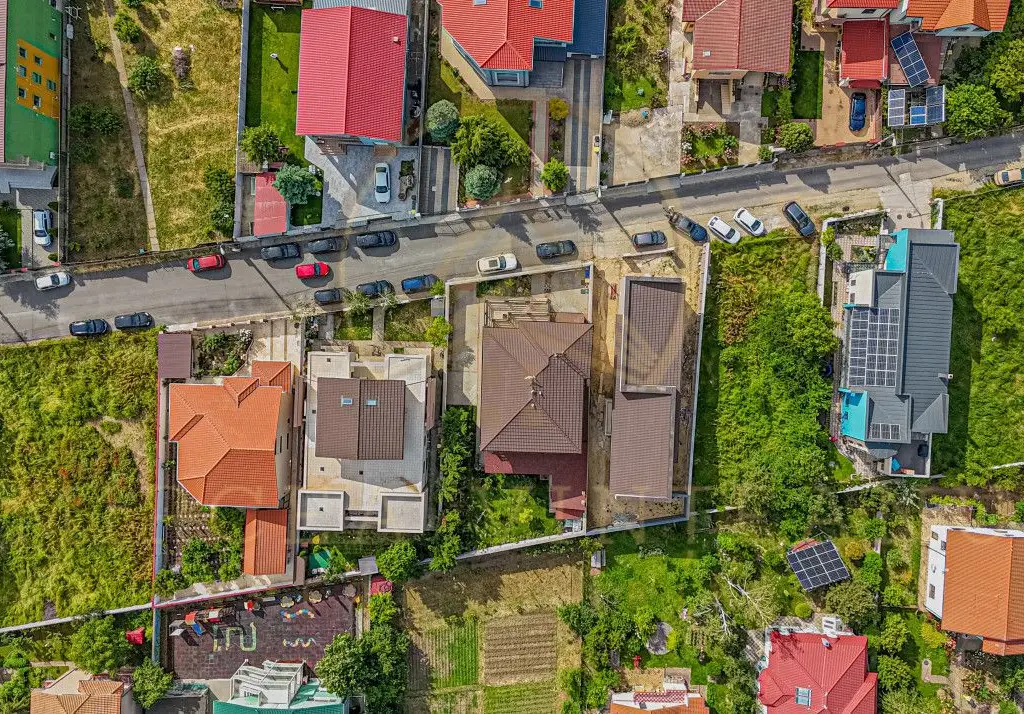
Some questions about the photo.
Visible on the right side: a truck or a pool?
truck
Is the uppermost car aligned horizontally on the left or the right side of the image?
right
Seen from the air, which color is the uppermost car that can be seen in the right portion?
blue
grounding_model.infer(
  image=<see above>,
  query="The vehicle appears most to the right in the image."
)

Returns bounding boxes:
[989,168,1024,188]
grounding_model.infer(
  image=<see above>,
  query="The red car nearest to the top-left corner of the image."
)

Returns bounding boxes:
[189,255,225,272]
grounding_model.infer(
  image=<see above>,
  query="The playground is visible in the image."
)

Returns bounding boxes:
[170,586,356,684]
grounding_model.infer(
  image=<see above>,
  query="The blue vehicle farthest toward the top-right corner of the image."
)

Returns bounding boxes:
[847,94,868,132]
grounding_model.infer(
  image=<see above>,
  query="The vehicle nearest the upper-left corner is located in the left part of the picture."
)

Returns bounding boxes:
[31,209,55,246]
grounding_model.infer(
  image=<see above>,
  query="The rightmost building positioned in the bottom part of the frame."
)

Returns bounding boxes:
[927,524,1024,656]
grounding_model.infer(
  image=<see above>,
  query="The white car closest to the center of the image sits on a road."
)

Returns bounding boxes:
[478,253,516,274]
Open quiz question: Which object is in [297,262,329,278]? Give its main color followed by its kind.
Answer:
red car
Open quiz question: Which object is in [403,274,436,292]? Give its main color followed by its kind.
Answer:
blue car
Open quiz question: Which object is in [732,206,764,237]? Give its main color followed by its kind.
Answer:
white car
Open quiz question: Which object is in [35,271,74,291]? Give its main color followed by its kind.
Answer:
white car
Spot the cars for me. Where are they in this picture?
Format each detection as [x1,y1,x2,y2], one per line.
[989,168,1024,188]
[782,200,816,238]
[632,231,665,248]
[304,235,342,255]
[732,206,764,237]
[31,209,55,246]
[373,164,391,202]
[297,262,329,278]
[706,216,739,244]
[263,242,301,261]
[536,239,576,259]
[314,289,344,304]
[116,312,153,329]
[847,94,868,132]
[478,253,516,274]
[403,274,436,292]
[189,255,225,272]
[35,271,74,291]
[357,279,395,298]
[70,318,110,336]
[357,230,396,249]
